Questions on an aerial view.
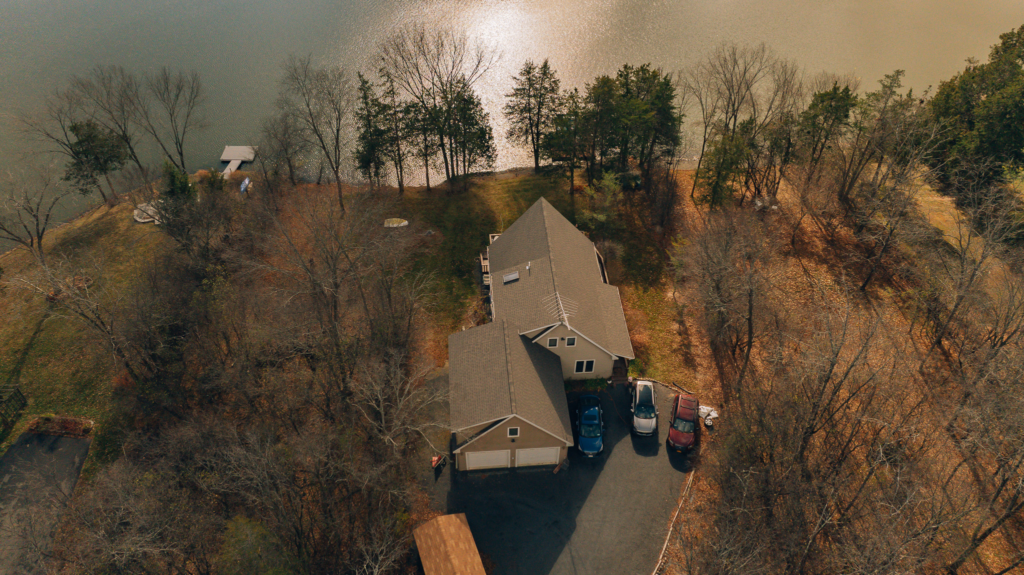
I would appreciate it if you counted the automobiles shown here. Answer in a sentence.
In total, 3 automobiles can be seen.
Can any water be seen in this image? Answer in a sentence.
Yes, there is water in the image.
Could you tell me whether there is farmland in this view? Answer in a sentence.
No, the scene doesn't show any farmland.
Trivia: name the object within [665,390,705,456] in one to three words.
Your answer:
car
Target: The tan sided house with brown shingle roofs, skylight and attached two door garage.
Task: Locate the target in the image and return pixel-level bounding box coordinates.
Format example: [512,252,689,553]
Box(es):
[448,197,636,475]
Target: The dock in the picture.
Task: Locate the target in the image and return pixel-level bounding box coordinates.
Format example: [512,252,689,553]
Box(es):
[222,143,259,180]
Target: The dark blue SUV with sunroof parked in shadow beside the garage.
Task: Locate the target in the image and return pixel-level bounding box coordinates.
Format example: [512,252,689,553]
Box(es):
[574,391,608,458]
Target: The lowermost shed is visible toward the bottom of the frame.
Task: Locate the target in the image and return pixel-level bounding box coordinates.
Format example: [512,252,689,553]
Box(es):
[413,513,486,575]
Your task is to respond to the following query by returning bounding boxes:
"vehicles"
[665,390,705,456]
[629,378,663,438]
[574,391,608,458]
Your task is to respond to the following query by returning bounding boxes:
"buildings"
[448,197,636,475]
[413,513,486,575]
